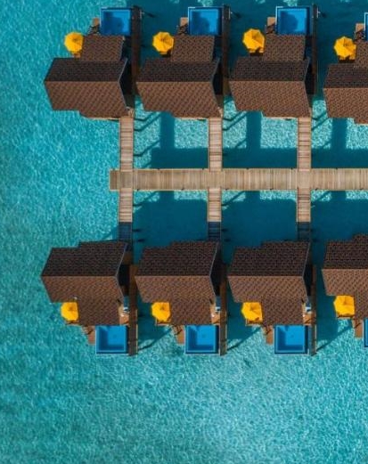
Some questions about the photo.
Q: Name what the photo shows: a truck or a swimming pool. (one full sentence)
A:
The image shows a swimming pool.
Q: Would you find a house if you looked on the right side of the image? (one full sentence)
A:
Yes, a house can be seen on the right side of the image.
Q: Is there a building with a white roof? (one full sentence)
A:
No, there's no building with a white roof here.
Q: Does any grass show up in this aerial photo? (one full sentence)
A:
No, no grass is visible.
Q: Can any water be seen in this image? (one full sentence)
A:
Yes, there's water in this view.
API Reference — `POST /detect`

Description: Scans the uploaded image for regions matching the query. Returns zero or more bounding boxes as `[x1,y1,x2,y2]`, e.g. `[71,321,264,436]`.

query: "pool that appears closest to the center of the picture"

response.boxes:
[182,322,219,356]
